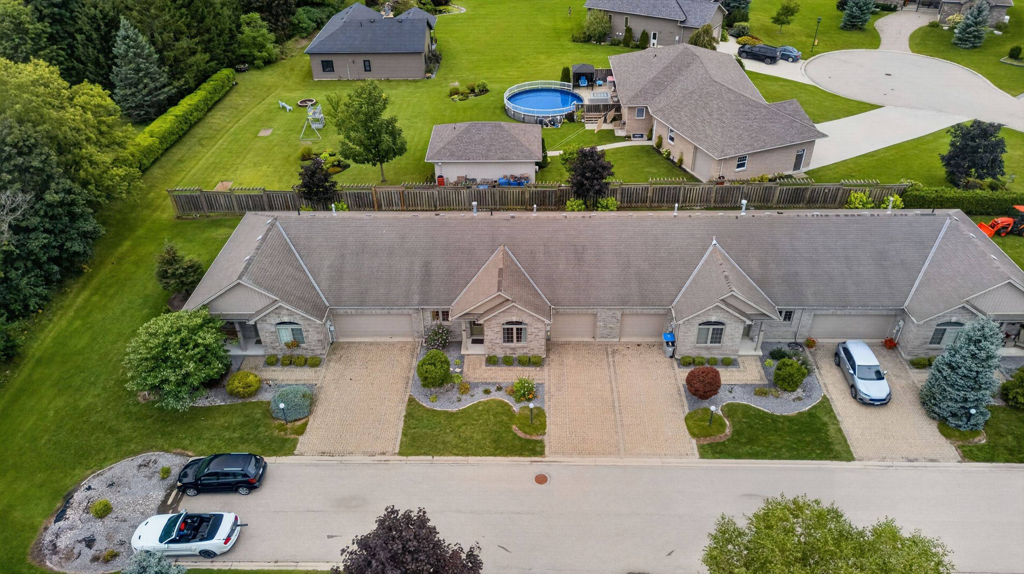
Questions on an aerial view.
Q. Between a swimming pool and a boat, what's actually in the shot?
swimming pool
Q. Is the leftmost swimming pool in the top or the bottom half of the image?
top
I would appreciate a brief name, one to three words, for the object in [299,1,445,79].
house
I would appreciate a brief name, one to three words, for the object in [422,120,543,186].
shed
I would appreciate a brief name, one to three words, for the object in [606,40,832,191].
house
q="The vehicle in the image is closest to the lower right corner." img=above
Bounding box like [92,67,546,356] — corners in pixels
[835,339,899,405]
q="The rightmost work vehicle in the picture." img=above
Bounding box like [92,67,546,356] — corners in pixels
[979,197,1024,235]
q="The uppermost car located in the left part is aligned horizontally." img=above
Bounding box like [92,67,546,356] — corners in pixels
[172,449,272,496]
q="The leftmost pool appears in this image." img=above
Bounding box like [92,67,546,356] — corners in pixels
[504,82,585,127]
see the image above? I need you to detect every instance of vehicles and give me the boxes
[979,197,1024,235]
[779,46,804,62]
[835,339,899,405]
[741,44,783,64]
[172,449,272,496]
[124,504,243,559]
